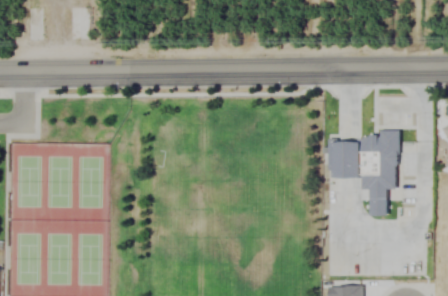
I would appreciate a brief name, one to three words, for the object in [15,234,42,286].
tennis court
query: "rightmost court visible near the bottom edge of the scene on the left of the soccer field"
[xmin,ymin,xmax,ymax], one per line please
[76,234,103,286]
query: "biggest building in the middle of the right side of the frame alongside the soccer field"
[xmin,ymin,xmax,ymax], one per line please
[329,131,401,217]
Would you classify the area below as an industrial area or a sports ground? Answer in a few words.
sports ground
